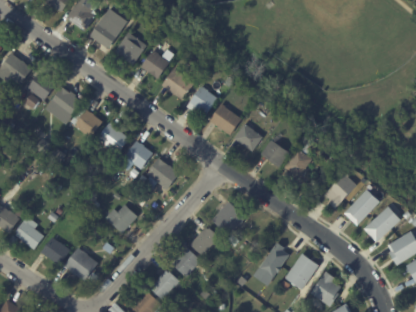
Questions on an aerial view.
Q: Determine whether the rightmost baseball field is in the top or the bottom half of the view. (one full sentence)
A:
The rightmost baseball field is in the top half of the image.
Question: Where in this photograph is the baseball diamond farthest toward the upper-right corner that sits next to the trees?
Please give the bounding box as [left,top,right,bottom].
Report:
[246,0,416,92]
